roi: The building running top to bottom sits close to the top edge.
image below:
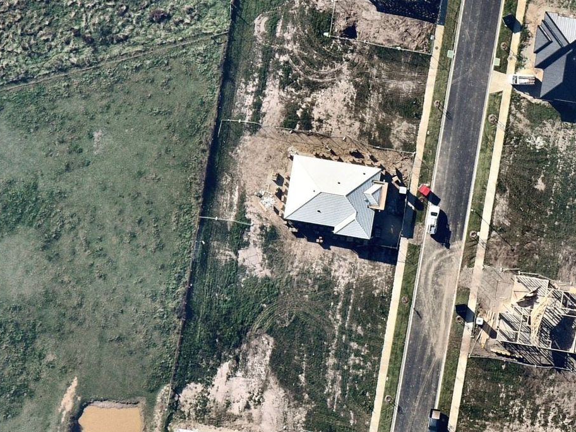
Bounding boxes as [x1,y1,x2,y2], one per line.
[533,12,576,103]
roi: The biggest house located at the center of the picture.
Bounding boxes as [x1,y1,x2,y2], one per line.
[283,154,388,239]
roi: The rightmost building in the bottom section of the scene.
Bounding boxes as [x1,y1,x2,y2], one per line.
[497,275,576,354]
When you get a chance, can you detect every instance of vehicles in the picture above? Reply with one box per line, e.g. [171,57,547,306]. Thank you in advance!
[428,408,442,432]
[424,204,440,236]
[507,72,537,87]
